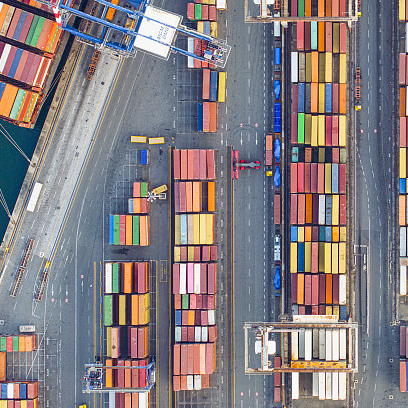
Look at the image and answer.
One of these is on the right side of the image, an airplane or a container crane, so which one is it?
container crane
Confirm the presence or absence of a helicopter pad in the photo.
No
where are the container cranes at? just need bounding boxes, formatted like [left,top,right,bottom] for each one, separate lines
[30,0,237,73]
[245,0,359,34]
[83,355,160,394]
[245,310,359,374]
